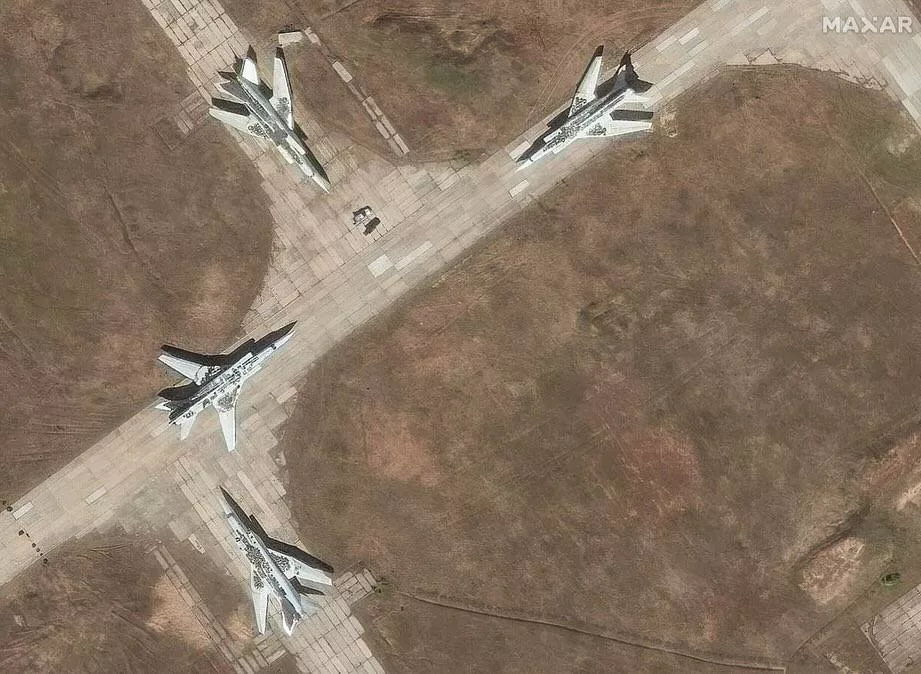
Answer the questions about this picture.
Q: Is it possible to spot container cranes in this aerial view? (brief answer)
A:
No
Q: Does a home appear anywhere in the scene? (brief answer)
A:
No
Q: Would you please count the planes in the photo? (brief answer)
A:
4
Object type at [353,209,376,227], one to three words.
vehicle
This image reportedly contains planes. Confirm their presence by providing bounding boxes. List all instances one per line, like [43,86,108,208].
[219,495,336,635]
[157,329,297,452]
[514,49,657,172]
[209,56,331,196]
